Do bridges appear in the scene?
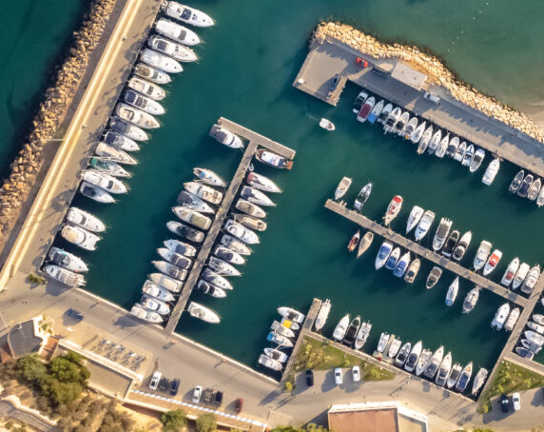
No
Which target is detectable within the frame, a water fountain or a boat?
boat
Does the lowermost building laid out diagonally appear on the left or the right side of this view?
left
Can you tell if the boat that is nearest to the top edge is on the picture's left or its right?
left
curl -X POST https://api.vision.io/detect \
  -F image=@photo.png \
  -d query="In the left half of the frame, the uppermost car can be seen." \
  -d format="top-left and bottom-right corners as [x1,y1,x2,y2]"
[66,308,84,321]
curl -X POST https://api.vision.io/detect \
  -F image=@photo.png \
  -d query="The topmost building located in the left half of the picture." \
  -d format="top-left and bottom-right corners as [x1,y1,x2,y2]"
[0,315,60,363]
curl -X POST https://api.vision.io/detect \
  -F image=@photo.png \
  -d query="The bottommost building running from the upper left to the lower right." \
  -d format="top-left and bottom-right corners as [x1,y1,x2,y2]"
[61,346,136,401]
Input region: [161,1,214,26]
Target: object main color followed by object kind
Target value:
white boat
